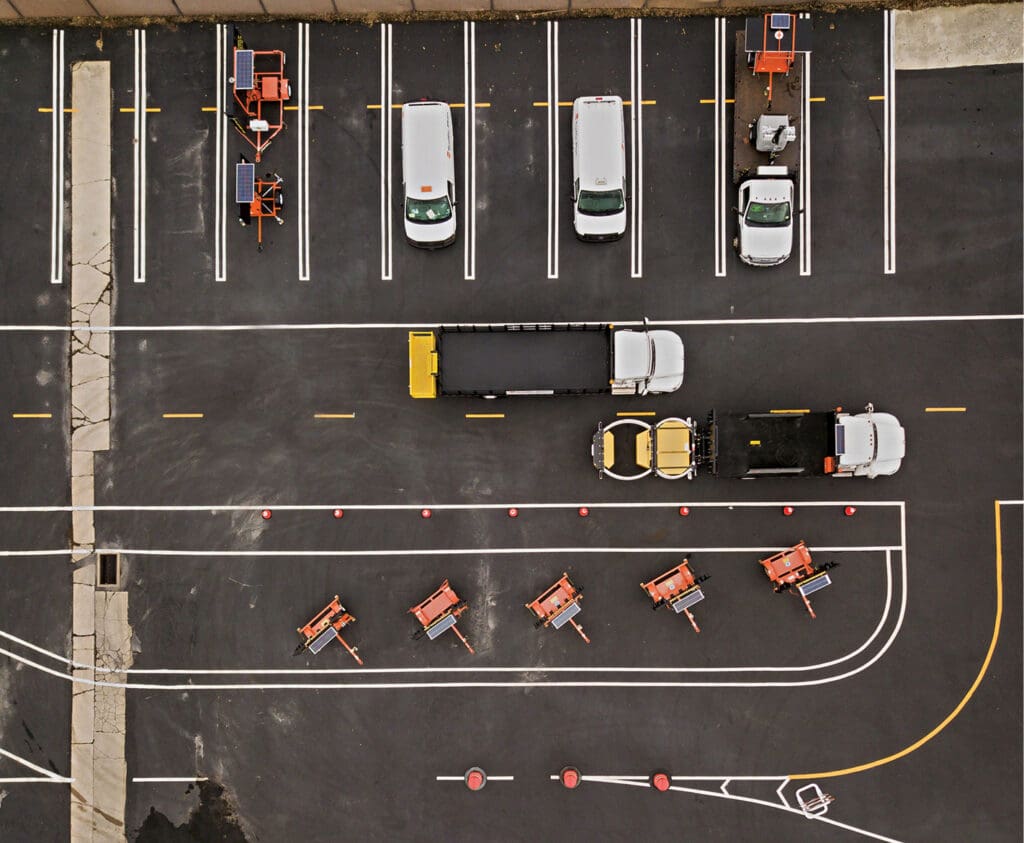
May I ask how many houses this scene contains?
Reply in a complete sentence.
There are no houses in the image.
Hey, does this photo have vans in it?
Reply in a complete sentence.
Yes, there is a van in the image.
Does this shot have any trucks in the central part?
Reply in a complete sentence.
Yes, there is a truck in the central part.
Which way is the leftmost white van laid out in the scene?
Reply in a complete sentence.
The leftmost white van runs up and down in the image.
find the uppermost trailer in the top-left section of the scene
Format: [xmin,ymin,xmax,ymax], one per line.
[228,24,293,162]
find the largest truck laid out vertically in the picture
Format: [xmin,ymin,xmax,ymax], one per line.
[731,32,807,267]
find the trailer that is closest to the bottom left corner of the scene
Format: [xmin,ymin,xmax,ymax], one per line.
[294,594,365,665]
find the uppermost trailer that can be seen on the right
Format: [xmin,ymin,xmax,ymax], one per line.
[745,13,812,110]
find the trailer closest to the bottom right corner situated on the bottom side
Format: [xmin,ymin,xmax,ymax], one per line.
[753,539,837,618]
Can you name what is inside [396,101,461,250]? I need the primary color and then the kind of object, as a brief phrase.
white van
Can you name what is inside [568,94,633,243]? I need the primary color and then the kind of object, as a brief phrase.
white van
